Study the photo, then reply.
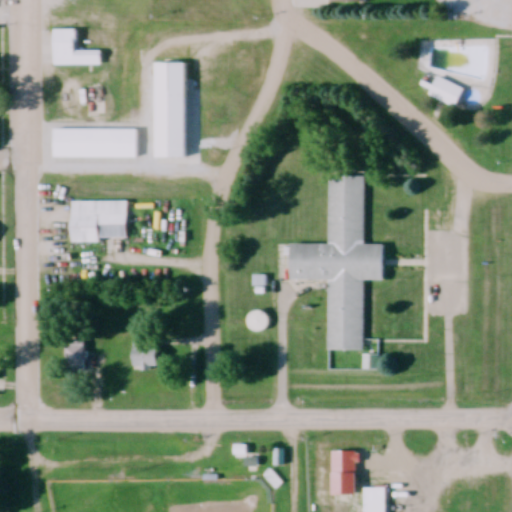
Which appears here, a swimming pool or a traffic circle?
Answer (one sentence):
Of the two, only a swimming pool appears.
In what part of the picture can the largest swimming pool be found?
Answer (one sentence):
Look in the top right portion of the view to spot the largest swimming pool.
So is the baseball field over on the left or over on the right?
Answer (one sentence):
The baseball field is on the left side of the image.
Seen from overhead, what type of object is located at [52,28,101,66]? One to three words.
building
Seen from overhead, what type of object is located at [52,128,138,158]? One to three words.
barn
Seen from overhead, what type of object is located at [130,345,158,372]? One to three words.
house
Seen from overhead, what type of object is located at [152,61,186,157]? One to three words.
barn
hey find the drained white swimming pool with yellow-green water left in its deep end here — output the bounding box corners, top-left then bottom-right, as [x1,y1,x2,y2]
[418,38,500,106]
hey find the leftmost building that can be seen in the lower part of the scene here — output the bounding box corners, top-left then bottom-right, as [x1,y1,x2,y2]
[64,342,84,370]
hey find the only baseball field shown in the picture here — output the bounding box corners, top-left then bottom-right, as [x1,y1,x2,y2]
[47,478,270,512]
